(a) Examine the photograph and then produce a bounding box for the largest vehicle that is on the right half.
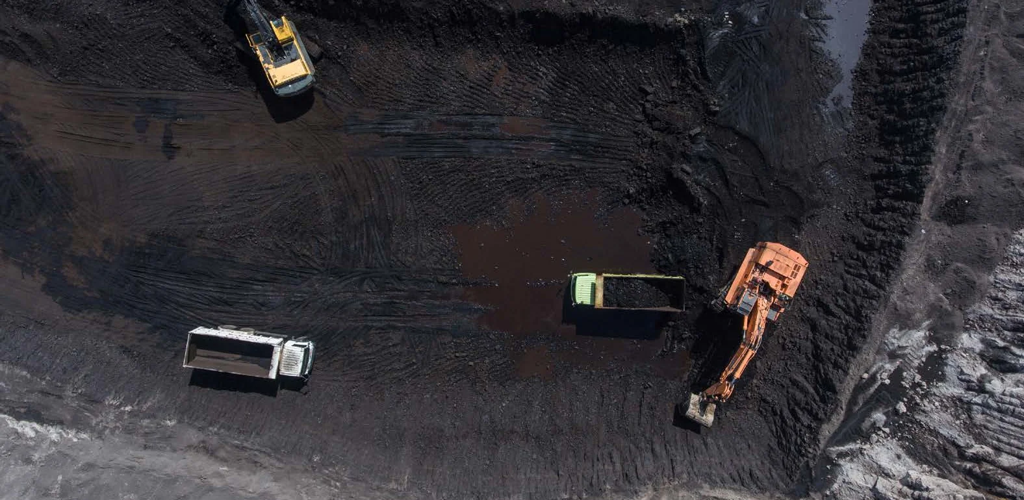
[683,241,806,425]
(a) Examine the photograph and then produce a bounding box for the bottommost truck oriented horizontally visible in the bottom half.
[185,328,318,385]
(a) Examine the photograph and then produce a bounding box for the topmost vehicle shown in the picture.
[240,0,325,99]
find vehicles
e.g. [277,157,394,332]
[240,0,325,99]
[683,241,806,425]
[185,328,318,385]
[567,269,686,312]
